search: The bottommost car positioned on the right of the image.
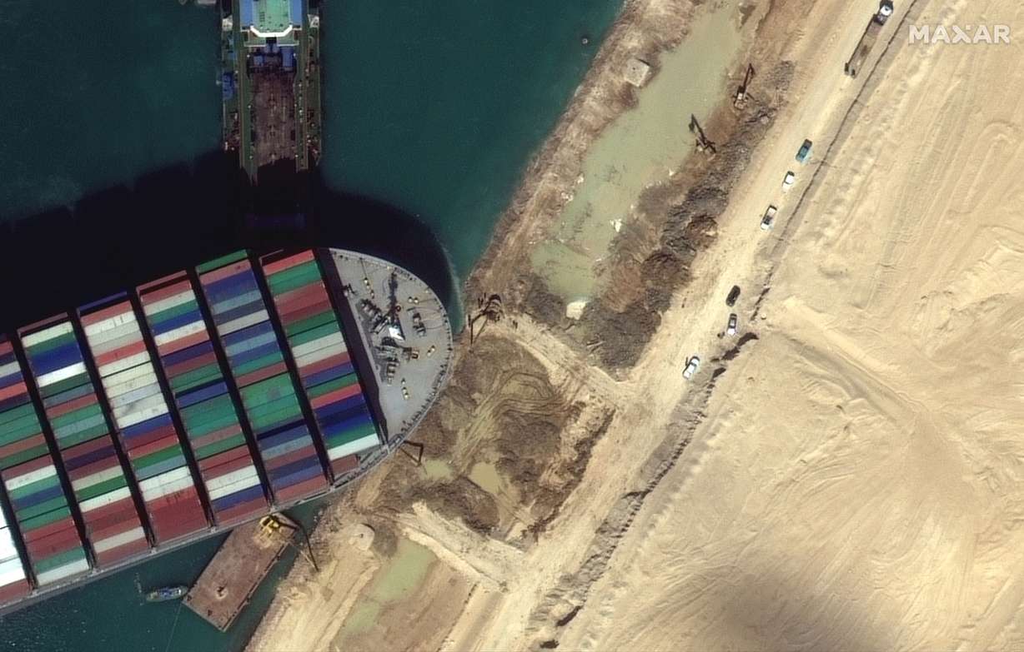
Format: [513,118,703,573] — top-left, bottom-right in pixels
[684,356,699,378]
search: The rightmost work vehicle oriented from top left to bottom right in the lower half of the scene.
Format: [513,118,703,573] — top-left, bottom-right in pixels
[393,441,424,468]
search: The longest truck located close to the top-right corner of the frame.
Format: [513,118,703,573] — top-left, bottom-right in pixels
[845,3,893,77]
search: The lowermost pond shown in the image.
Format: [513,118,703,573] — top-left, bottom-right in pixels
[334,537,436,652]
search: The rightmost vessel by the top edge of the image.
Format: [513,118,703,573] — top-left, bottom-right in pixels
[217,0,321,243]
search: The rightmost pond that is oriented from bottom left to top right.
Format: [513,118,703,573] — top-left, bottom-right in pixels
[530,0,750,302]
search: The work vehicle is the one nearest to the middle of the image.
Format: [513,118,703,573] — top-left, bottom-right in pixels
[469,290,508,346]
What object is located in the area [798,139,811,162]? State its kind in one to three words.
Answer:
vehicle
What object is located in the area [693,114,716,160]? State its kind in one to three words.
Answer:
work vehicle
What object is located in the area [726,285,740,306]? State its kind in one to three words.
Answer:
car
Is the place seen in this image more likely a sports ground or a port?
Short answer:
port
